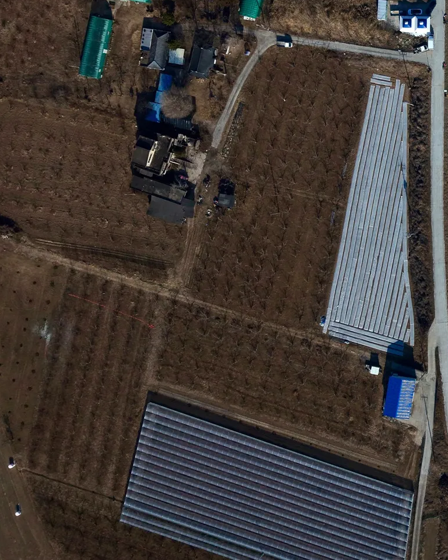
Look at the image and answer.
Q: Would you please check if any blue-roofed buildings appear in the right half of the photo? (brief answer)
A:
Yes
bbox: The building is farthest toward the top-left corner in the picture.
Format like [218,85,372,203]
[80,16,115,79]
